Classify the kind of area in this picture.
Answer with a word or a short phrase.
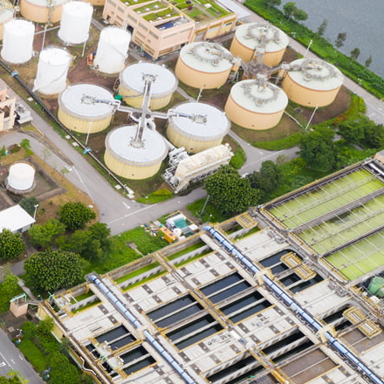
industrial area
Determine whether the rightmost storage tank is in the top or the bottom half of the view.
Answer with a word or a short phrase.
top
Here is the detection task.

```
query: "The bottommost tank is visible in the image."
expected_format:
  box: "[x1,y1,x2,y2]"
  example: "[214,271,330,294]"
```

[0,159,37,193]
